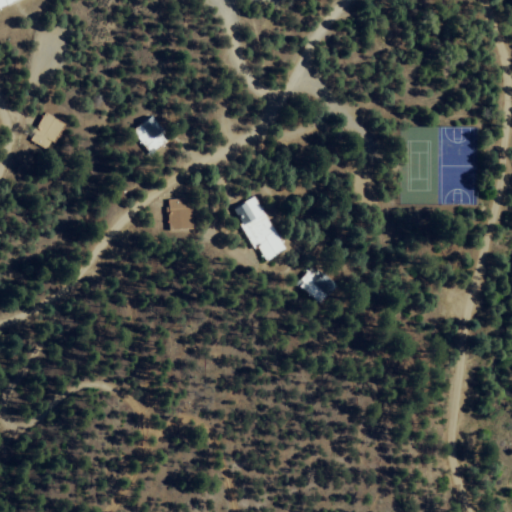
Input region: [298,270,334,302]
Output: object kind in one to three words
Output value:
house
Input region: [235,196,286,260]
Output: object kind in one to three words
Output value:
house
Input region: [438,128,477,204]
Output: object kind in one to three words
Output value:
basketball court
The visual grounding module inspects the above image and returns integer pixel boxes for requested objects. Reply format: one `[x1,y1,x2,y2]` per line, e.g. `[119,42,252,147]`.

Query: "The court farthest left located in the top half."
[401,128,438,204]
